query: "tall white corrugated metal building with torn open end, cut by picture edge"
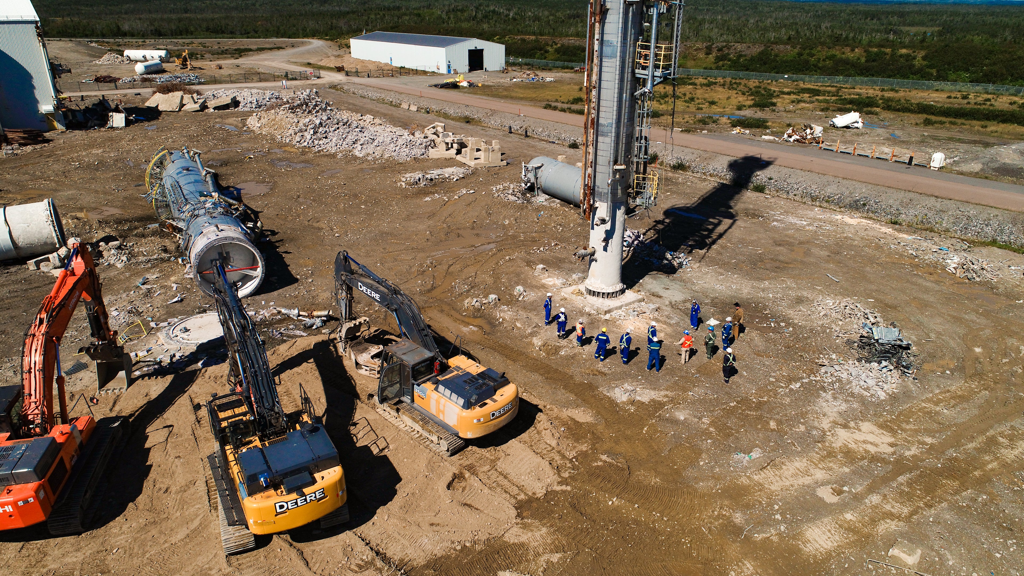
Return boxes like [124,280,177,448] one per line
[0,0,101,131]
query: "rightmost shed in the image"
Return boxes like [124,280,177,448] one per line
[353,30,507,73]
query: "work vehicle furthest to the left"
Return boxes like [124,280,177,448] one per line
[0,237,136,521]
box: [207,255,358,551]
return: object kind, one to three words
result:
work vehicle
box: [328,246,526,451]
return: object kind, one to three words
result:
work vehicle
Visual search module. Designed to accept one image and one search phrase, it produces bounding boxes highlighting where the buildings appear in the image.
[0,0,101,131]
[353,30,507,73]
